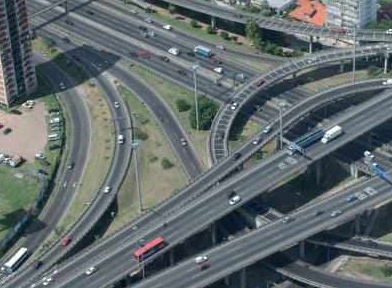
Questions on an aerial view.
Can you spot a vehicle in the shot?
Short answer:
Yes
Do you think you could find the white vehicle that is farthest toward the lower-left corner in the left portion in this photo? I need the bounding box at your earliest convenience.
[5,246,26,272]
